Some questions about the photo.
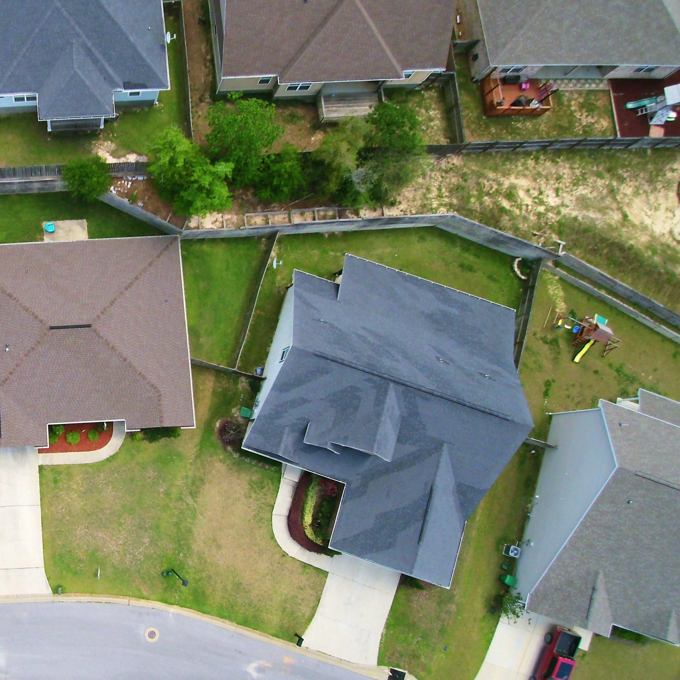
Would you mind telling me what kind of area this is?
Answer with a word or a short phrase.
residential area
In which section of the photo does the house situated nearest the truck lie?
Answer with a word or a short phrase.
bottom right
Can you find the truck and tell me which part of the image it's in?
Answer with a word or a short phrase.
bottom right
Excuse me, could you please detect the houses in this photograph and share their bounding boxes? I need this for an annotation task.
[0,234,196,451]
[505,388,680,647]
[458,0,680,81]
[0,0,171,134]
[237,253,535,591]
[204,0,458,97]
